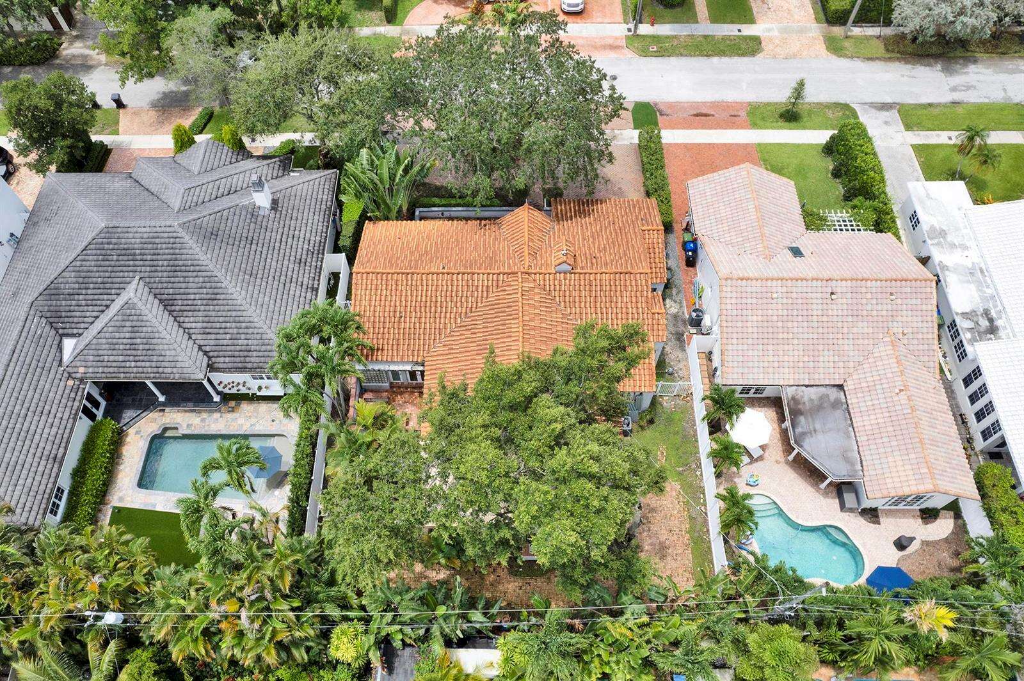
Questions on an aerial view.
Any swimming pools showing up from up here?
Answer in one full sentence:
Yes, a swimming pool is visible in the scene.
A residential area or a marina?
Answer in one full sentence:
It's a residential area.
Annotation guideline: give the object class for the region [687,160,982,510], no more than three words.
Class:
house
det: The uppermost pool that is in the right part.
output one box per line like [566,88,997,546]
[741,488,869,587]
